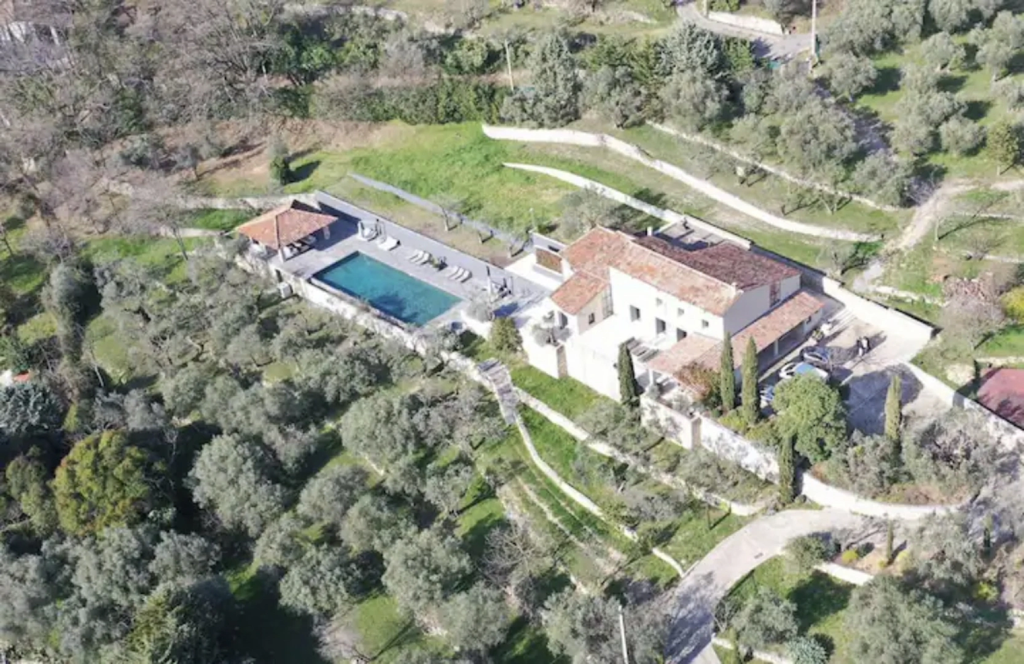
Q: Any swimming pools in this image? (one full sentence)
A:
Yes, the image includes a swimming pool.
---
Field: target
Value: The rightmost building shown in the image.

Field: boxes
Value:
[551,224,824,410]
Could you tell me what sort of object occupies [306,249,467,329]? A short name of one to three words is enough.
swimming pool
